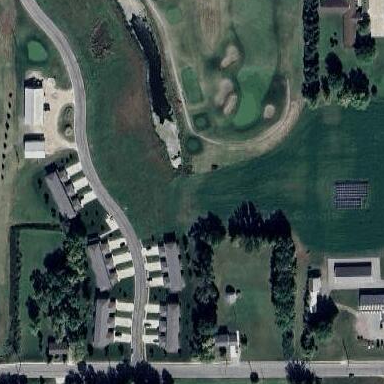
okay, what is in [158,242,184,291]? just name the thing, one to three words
house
